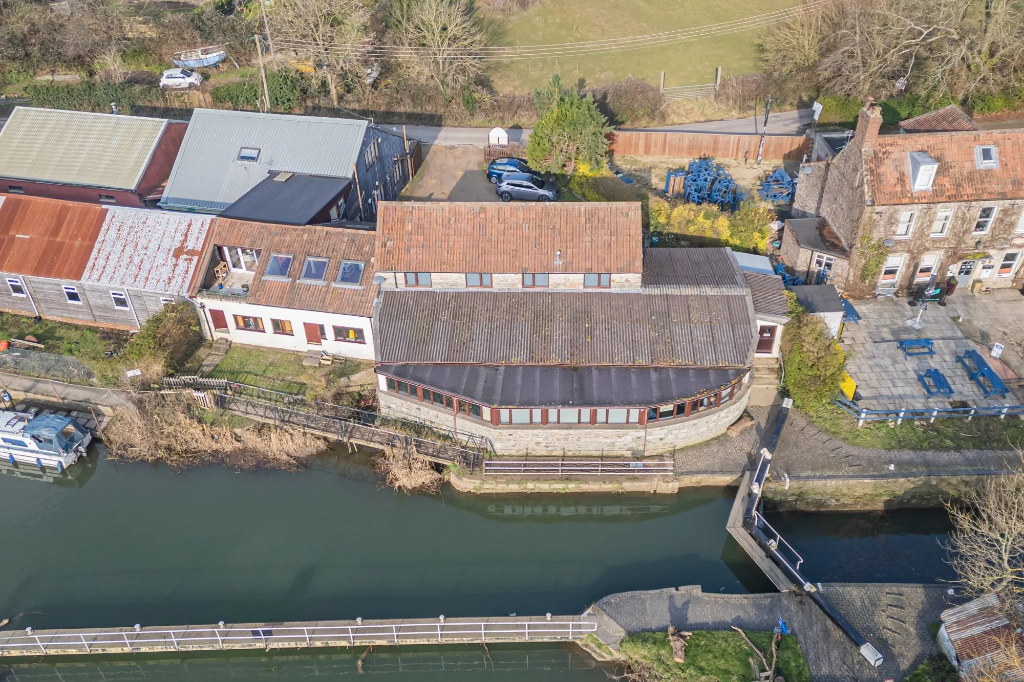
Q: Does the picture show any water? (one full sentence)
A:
Yes, some water is visible.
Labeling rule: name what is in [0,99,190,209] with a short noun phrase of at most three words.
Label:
building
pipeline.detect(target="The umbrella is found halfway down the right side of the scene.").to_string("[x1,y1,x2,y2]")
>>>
[904,280,931,329]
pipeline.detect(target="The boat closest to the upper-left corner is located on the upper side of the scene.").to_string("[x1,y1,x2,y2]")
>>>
[155,44,229,65]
